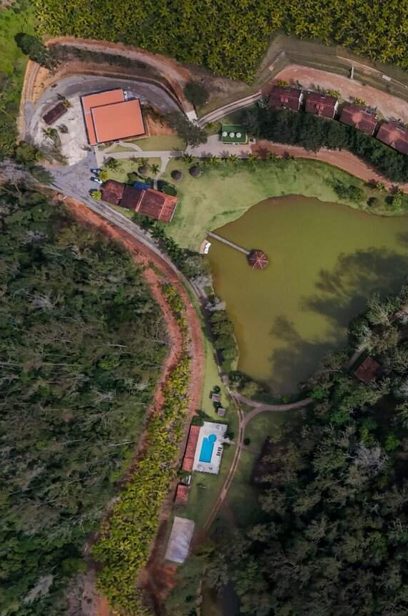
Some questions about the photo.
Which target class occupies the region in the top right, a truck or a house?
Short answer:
house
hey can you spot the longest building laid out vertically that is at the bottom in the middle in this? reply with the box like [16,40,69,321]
[181,426,202,471]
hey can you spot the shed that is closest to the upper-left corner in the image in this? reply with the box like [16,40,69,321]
[42,103,69,125]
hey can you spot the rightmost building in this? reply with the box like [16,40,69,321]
[376,123,408,153]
